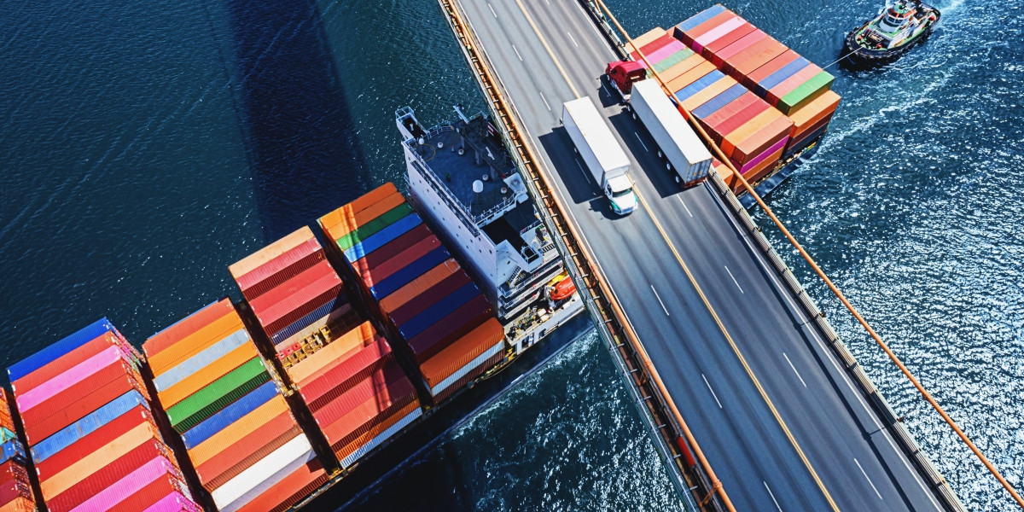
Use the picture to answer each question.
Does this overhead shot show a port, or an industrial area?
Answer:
port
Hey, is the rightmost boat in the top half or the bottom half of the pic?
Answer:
top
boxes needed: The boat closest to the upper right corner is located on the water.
[837,0,948,72]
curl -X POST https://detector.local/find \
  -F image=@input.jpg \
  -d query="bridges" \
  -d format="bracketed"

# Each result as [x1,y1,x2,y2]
[429,0,1024,512]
